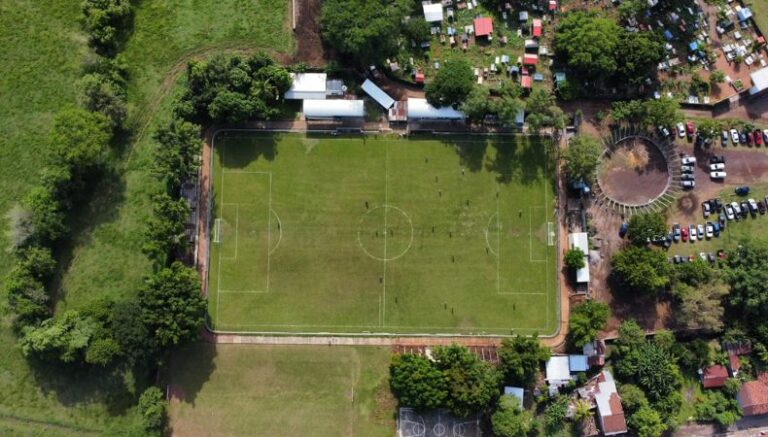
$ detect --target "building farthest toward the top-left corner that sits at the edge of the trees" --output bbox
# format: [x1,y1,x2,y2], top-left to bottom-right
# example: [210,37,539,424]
[284,73,327,102]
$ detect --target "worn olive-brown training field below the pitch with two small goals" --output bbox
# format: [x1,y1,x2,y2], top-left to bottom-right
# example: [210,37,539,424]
[152,346,396,437]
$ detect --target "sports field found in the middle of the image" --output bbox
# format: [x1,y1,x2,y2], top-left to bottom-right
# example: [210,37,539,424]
[206,130,558,337]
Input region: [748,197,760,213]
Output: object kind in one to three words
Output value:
vehicle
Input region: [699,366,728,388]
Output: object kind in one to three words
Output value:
house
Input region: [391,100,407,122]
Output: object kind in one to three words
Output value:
shed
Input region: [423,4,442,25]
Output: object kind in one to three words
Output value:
building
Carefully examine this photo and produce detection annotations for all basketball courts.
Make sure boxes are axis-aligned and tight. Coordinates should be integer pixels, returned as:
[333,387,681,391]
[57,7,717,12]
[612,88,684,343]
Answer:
[397,405,481,437]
